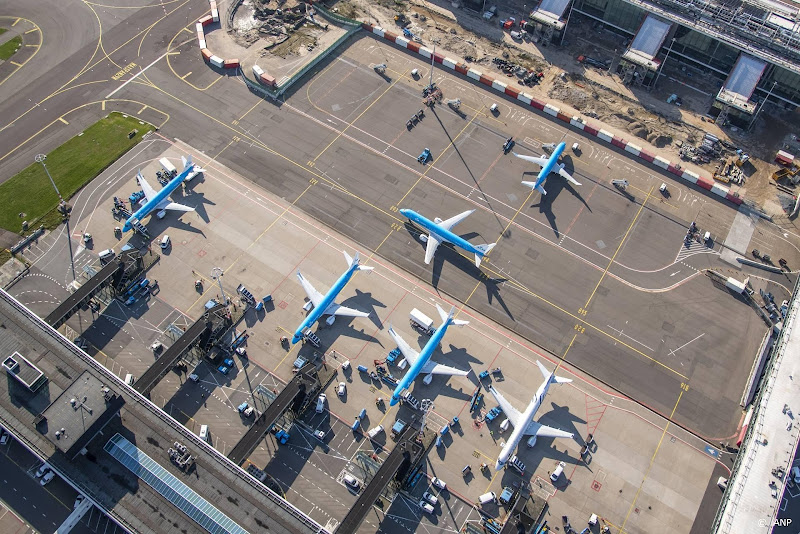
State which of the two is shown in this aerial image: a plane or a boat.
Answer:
plane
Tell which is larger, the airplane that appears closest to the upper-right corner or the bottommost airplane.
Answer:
the bottommost airplane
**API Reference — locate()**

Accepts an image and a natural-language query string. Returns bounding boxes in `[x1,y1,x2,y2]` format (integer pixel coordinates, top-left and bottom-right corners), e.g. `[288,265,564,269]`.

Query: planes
[512,142,583,197]
[488,361,576,469]
[294,250,375,341]
[401,208,498,268]
[389,304,470,403]
[123,152,208,230]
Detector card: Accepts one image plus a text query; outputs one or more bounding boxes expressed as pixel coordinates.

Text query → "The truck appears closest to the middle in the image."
[408,309,438,335]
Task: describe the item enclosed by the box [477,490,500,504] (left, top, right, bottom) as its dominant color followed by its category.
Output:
white vehicle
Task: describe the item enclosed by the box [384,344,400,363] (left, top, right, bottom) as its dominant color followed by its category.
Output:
blue vehicle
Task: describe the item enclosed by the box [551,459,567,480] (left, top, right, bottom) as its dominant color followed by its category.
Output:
white vehicle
